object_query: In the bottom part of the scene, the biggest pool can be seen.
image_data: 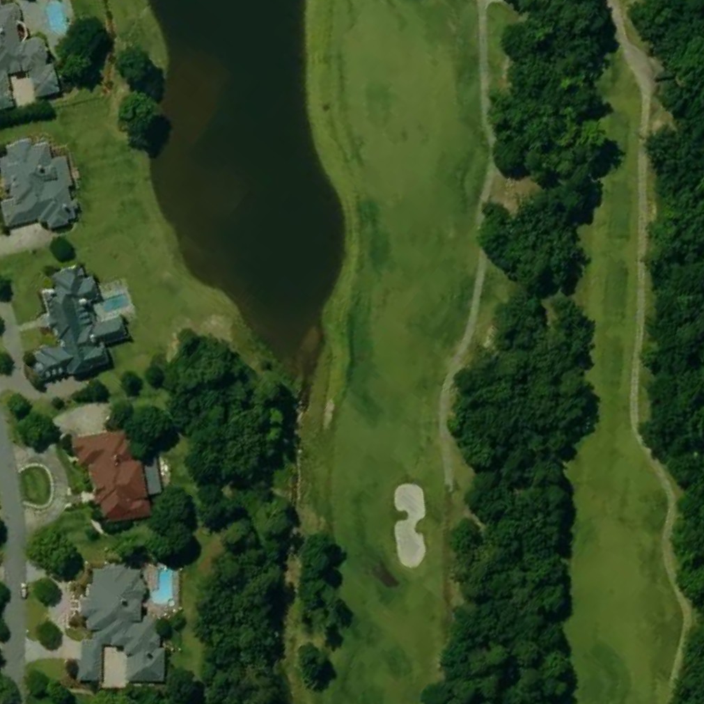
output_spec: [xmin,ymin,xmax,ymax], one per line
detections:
[151,568,175,607]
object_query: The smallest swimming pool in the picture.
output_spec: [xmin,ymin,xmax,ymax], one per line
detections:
[102,294,129,313]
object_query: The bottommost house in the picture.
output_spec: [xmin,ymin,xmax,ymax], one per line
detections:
[77,564,164,683]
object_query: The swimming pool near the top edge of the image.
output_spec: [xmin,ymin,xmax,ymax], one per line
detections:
[46,0,70,35]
